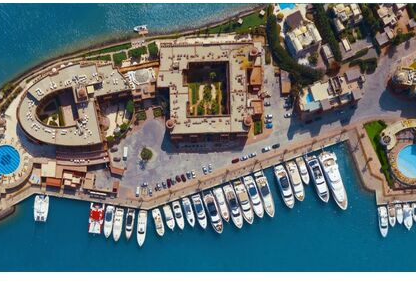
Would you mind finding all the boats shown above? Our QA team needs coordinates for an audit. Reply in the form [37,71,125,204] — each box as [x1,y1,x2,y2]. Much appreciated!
[137,206,149,246]
[153,204,164,236]
[192,189,207,228]
[305,151,329,202]
[164,201,175,230]
[245,171,263,217]
[223,179,242,228]
[275,161,294,208]
[35,196,50,222]
[377,201,389,237]
[395,199,403,224]
[135,26,148,32]
[297,153,309,184]
[183,193,195,226]
[402,200,413,229]
[234,176,253,224]
[104,202,116,238]
[286,156,304,201]
[321,146,349,209]
[387,201,396,226]
[255,166,274,217]
[174,197,184,229]
[214,182,229,221]
[126,204,136,239]
[202,186,222,233]
[89,202,104,233]
[114,204,125,241]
